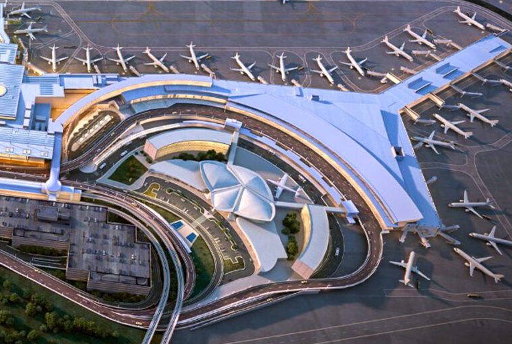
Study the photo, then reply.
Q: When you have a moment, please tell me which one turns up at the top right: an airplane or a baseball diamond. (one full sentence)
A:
It is an airplane that can be seen at the top right.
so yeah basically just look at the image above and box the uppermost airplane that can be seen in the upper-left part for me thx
[9,0,42,17]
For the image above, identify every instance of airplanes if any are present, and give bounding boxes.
[449,186,498,219]
[15,20,48,39]
[36,46,73,71]
[176,41,212,70]
[333,43,373,75]
[385,252,435,288]
[70,43,107,71]
[433,114,474,138]
[262,51,303,82]
[9,0,42,17]
[452,3,484,30]
[303,50,343,84]
[137,44,170,72]
[412,129,460,156]
[377,32,413,62]
[461,104,502,125]
[224,49,260,81]
[455,249,507,282]
[401,20,436,49]
[103,42,138,71]
[469,224,512,256]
